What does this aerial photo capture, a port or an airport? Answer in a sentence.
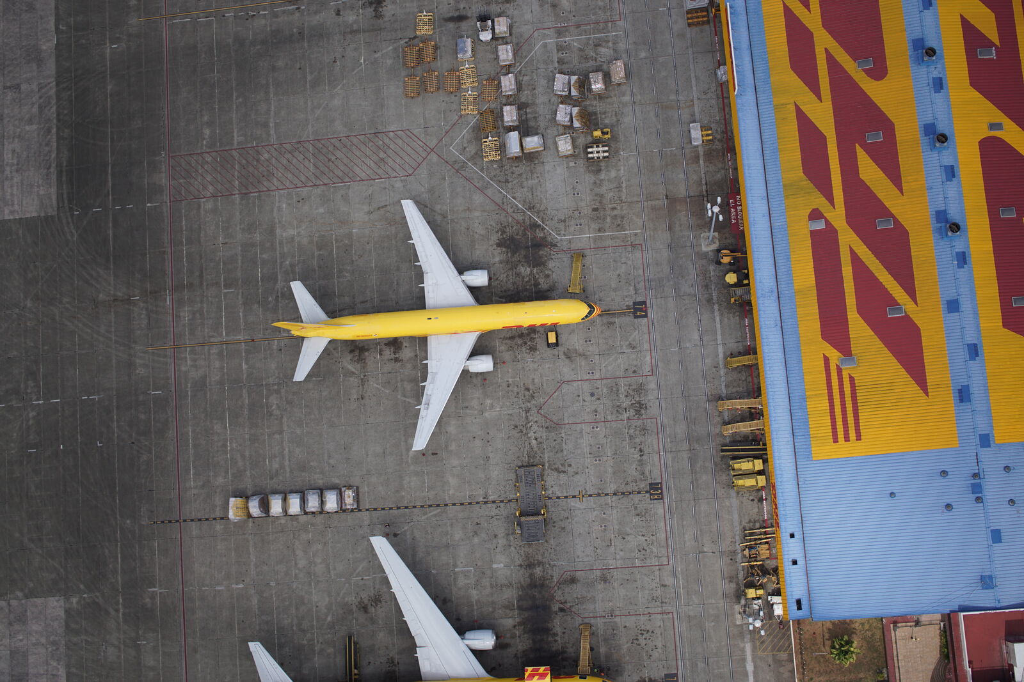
The picture captures an airport.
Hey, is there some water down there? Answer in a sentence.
No, no water is visible.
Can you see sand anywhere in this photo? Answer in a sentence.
No, there's no sand in this view.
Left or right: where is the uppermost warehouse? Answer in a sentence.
You can find the uppermost warehouse on the right side of the picture.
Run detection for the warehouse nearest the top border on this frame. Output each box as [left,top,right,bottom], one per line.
[721,0,1024,620]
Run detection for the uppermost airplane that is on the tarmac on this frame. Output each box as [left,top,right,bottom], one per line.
[272,199,601,450]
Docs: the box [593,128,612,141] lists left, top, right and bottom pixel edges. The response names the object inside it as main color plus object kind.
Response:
yellow vehicle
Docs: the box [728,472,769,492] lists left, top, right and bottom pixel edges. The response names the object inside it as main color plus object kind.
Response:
yellow vehicle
